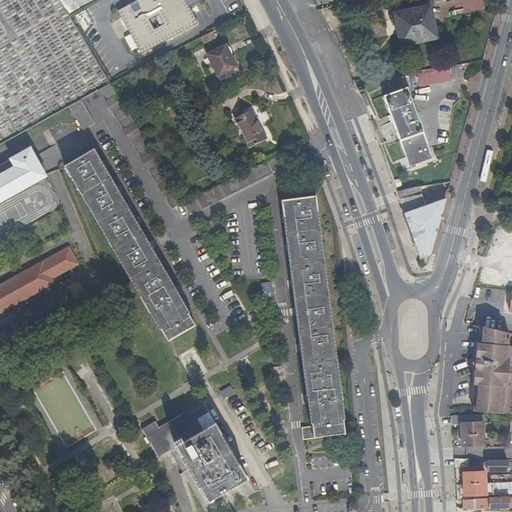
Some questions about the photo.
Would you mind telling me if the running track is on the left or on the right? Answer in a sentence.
The running track appears in the left half of the scene.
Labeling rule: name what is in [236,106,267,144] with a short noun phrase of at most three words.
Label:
house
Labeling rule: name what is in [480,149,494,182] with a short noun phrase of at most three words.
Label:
vehicle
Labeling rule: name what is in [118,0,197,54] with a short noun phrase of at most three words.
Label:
building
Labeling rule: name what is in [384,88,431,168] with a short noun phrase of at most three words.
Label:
building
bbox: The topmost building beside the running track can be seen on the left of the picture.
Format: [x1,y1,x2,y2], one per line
[0,146,48,202]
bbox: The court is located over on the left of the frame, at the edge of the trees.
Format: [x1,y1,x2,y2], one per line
[34,371,96,448]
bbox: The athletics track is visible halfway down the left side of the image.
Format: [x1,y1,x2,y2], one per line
[0,178,61,238]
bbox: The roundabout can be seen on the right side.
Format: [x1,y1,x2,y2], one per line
[397,298,430,361]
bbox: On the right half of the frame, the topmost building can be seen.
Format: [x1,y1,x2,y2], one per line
[392,4,439,44]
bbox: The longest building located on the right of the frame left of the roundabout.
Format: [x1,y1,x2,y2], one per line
[282,196,346,438]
